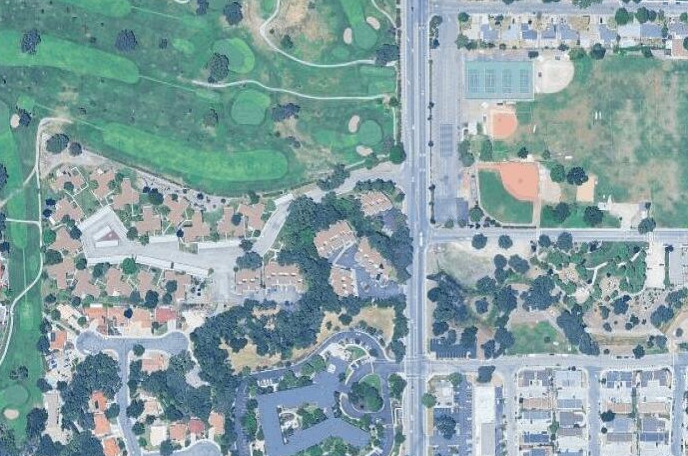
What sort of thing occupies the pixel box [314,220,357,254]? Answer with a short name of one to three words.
house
